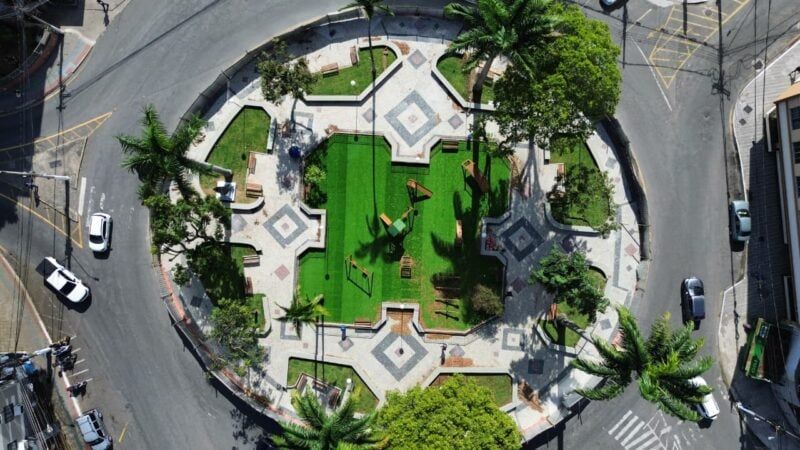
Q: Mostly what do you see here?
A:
paved ground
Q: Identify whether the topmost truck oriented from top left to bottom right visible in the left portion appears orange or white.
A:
white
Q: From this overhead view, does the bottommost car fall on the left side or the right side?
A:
left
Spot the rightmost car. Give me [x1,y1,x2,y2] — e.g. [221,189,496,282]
[726,200,752,242]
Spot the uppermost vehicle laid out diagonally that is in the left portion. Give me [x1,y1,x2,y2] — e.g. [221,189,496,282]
[41,257,96,304]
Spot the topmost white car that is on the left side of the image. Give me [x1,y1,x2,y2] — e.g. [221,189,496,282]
[89,212,115,254]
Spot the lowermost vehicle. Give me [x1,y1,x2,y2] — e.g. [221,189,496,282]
[78,409,115,450]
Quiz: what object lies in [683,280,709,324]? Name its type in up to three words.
car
